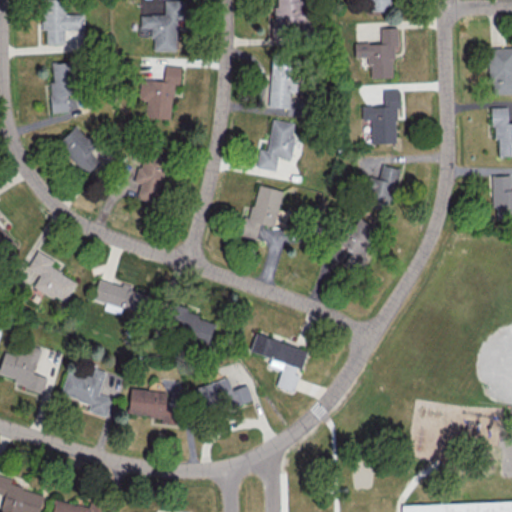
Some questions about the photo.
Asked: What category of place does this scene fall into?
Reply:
residential area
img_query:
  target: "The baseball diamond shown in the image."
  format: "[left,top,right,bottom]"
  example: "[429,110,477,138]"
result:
[476,324,512,405]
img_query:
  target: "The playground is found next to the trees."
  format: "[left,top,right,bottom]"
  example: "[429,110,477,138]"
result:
[411,400,504,464]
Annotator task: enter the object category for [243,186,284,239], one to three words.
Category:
house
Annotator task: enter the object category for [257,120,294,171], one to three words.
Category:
house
